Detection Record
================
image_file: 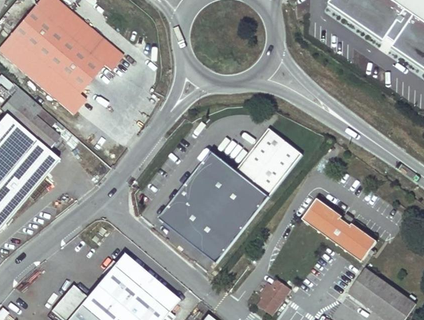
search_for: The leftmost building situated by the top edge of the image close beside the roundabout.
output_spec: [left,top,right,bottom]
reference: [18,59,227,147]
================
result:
[0,0,125,116]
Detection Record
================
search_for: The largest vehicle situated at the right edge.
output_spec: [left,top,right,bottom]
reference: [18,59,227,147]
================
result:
[396,163,421,182]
